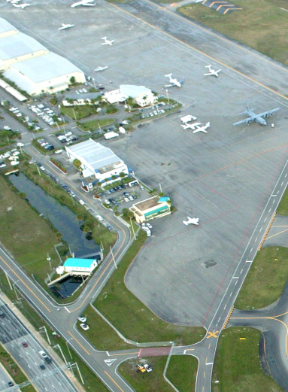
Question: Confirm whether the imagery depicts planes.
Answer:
Yes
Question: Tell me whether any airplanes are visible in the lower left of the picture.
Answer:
No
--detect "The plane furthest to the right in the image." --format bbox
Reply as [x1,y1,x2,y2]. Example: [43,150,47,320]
[234,98,283,124]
